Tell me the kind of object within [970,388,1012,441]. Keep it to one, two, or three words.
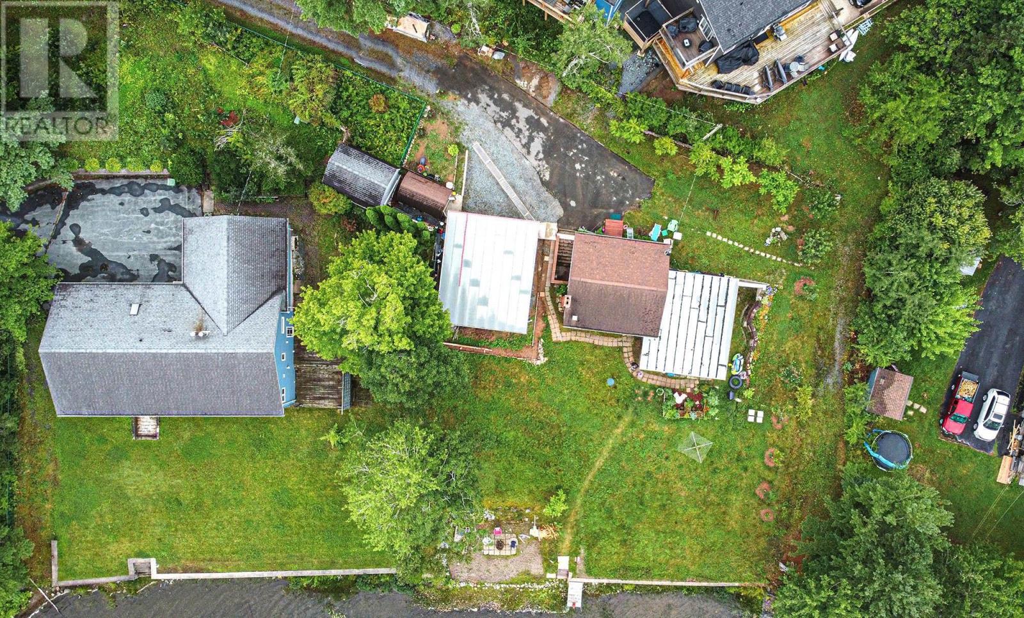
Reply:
car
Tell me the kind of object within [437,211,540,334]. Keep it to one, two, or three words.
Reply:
building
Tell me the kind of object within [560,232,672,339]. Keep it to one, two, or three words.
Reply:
house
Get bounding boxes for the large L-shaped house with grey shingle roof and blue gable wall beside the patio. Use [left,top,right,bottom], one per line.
[39,215,295,417]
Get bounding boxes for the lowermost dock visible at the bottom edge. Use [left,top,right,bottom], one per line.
[567,583,583,608]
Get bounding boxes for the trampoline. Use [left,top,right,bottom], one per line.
[863,429,914,473]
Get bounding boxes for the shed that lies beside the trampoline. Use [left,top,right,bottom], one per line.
[860,368,914,420]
